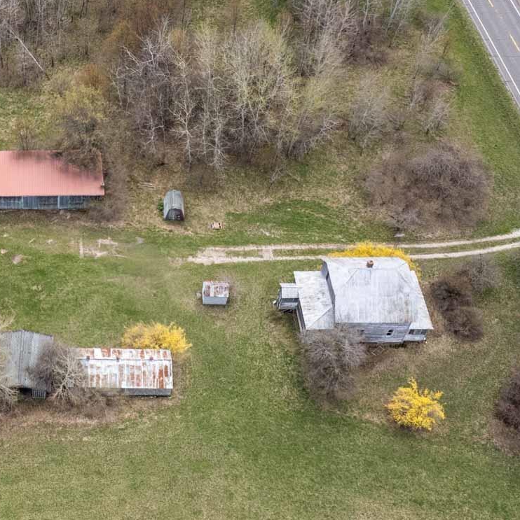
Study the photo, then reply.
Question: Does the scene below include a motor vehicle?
No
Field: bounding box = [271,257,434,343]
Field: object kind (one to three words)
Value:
house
